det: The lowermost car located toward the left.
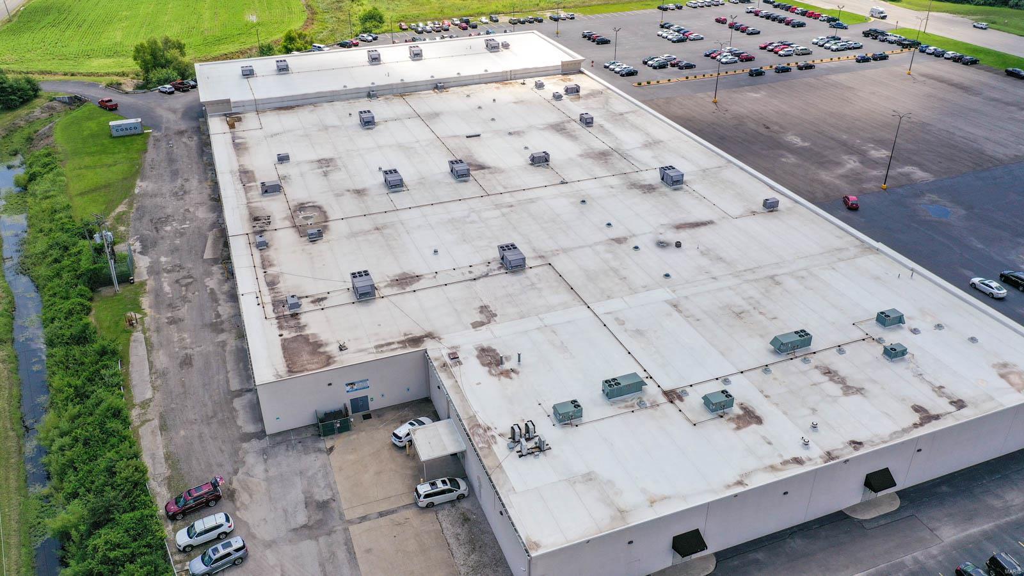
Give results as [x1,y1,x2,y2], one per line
[183,531,250,576]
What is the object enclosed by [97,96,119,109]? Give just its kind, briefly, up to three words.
vehicle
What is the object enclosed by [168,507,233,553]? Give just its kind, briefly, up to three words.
car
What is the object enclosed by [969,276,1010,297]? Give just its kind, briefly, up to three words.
car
